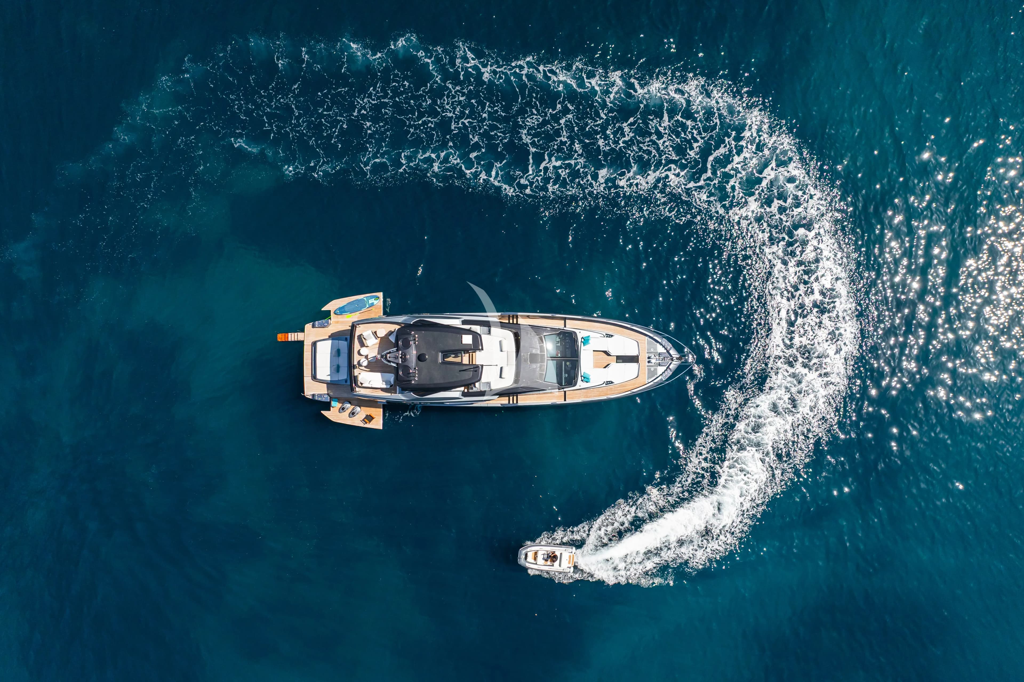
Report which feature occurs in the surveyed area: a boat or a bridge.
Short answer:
boat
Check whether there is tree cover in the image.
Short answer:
No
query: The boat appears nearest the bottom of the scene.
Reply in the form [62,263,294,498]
[518,545,576,574]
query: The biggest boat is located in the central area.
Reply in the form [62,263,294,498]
[277,292,696,429]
